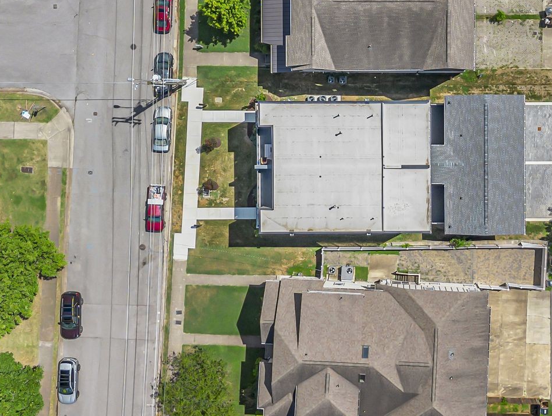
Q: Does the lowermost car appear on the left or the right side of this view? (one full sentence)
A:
The lowermost car is on the left side of the image.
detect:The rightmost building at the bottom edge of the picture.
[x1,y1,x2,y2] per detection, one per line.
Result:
[256,273,493,416]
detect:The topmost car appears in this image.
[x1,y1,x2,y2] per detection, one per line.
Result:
[151,0,175,34]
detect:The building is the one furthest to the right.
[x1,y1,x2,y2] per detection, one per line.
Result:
[431,95,526,235]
